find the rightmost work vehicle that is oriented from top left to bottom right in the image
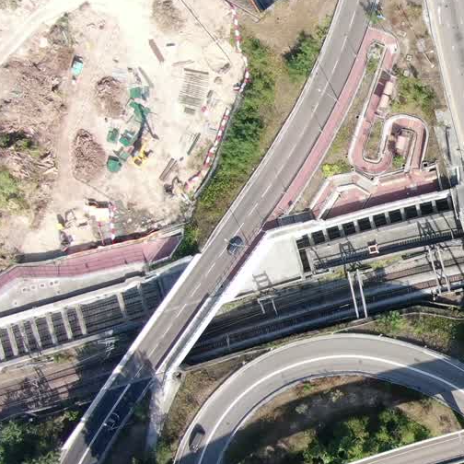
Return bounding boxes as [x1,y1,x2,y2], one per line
[153,170,184,196]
